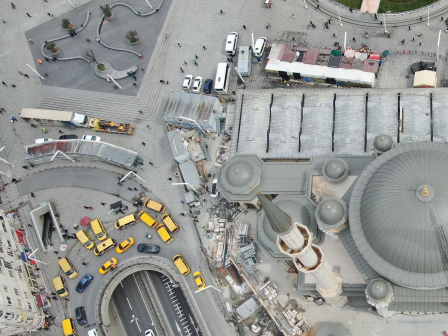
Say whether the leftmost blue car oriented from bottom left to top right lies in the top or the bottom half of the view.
bottom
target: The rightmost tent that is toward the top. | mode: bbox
[414,73,437,88]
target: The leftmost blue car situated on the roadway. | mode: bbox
[73,271,93,293]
